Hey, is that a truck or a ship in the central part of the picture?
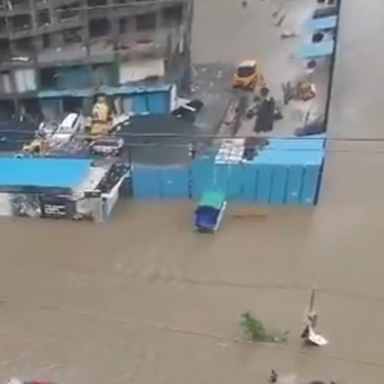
truck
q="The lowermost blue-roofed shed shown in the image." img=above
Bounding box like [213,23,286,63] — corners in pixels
[0,157,92,191]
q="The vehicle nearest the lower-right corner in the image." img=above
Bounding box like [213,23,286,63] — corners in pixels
[196,187,231,231]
